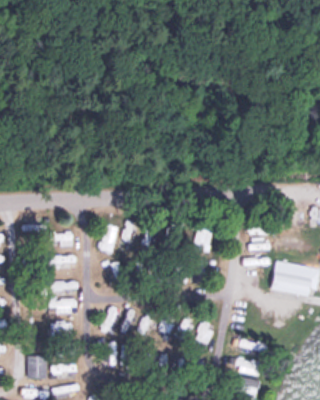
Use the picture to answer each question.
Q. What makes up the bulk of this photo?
trees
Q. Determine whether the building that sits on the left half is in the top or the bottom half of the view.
bottom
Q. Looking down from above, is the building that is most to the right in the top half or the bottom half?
bottom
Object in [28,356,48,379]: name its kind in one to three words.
building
